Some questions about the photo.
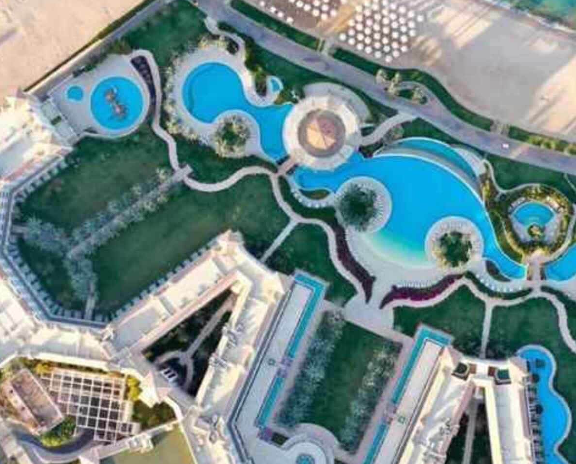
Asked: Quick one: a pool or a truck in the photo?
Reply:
pool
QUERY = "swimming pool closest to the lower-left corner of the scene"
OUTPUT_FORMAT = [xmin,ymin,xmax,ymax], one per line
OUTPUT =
[256,377,285,426]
